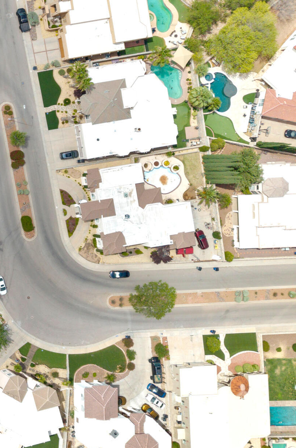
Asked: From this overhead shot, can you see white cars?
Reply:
Yes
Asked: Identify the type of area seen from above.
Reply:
residential area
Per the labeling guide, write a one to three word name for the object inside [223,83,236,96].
umbrella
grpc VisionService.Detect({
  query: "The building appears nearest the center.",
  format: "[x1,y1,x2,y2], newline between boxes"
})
[68,165,196,256]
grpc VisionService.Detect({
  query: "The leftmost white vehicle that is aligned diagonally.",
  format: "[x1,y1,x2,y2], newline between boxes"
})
[145,393,165,410]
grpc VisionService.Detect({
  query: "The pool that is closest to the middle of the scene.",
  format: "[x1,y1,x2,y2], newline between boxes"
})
[143,166,183,195]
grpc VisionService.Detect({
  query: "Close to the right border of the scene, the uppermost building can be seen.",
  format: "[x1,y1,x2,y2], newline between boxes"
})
[249,27,296,123]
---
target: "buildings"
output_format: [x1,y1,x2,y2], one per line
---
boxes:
[51,0,153,62]
[163,358,270,448]
[65,377,171,448]
[68,165,196,256]
[0,366,64,448]
[68,59,178,159]
[249,27,296,123]
[225,160,296,249]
